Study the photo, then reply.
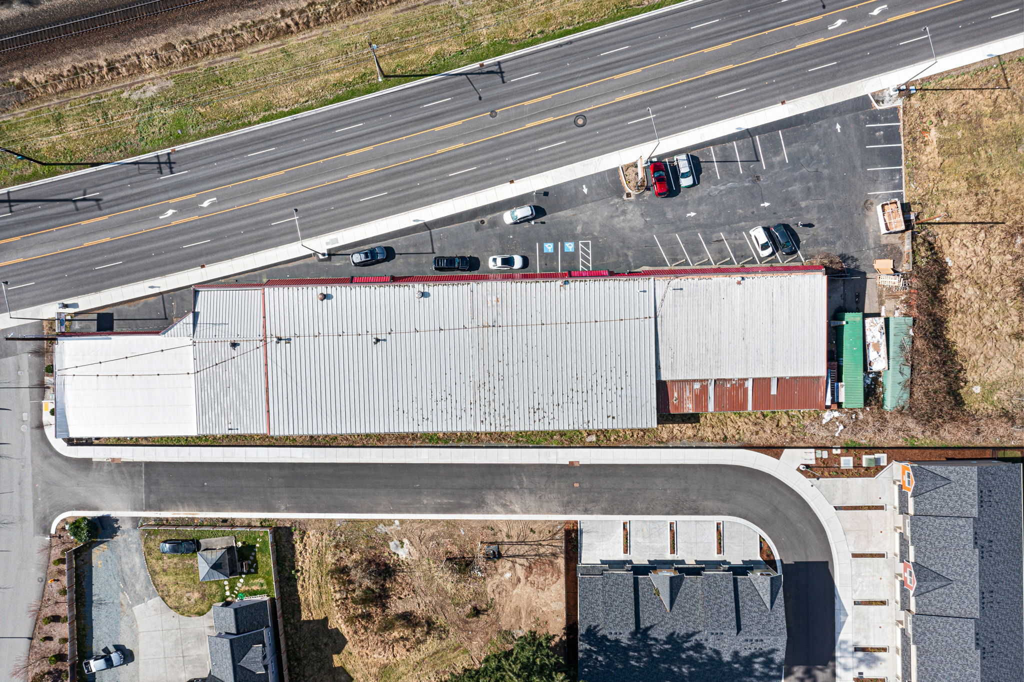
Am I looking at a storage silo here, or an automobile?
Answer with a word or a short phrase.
automobile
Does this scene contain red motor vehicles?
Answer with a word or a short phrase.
Yes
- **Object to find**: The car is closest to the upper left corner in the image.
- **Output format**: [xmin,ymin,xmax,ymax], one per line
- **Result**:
[349,245,384,265]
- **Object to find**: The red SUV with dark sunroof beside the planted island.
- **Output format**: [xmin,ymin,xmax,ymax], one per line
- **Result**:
[649,162,669,197]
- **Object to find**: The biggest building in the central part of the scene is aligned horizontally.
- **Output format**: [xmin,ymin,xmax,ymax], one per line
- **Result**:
[54,262,828,439]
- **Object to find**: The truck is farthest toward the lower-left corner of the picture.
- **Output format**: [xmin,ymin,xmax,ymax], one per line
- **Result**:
[80,650,123,676]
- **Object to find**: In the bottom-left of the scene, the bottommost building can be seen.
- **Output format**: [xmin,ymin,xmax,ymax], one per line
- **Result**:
[207,591,282,682]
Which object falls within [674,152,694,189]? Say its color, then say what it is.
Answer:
white car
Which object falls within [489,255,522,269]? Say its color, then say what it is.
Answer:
white car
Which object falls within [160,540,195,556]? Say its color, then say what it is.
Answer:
black car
